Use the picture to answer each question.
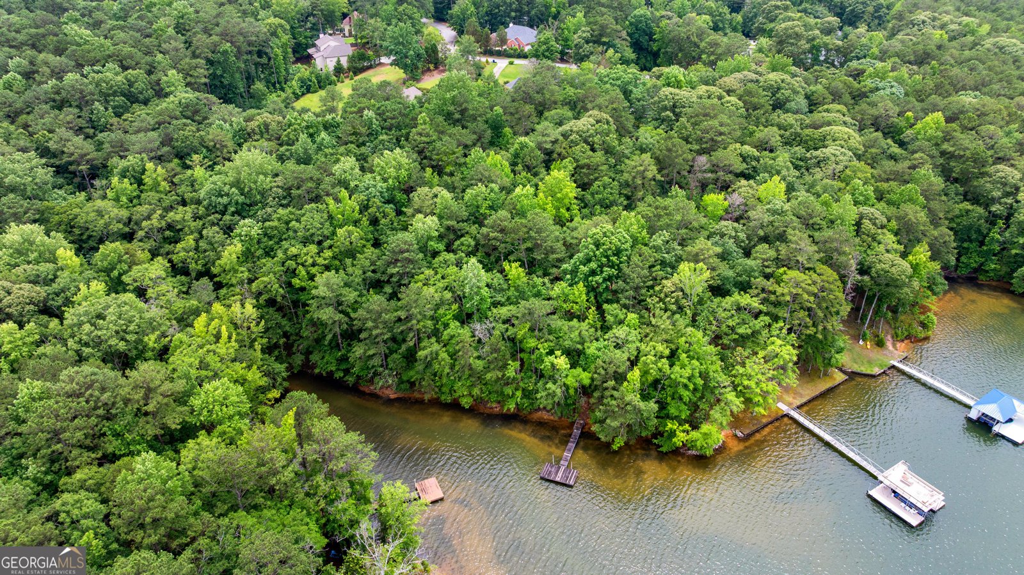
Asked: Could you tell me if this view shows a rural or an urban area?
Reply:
rural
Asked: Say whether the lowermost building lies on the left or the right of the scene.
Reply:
right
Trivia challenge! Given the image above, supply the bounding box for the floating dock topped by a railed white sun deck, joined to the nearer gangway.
[864,457,950,528]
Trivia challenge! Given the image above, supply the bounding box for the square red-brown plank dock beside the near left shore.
[415,476,444,506]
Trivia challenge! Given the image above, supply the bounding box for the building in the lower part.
[966,387,1024,447]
